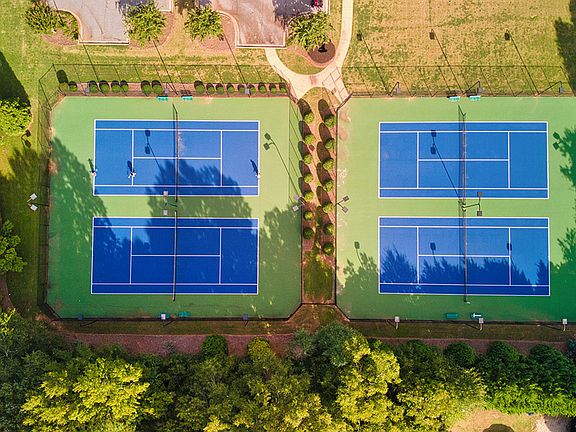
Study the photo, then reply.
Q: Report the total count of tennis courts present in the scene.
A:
four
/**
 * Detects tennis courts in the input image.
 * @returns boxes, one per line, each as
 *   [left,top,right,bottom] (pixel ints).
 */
[91,217,259,295]
[93,119,260,197]
[379,216,550,296]
[379,121,549,199]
